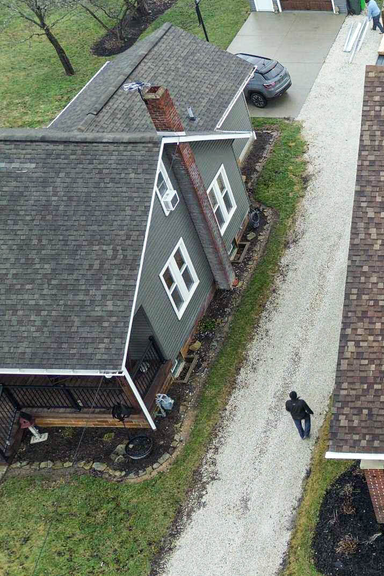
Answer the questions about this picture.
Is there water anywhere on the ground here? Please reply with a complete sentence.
No, the picture contains no water.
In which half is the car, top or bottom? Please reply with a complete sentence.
Seen from above, the car lies in the top half of the view.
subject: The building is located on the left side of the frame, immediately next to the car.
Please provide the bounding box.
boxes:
[0,21,264,478]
